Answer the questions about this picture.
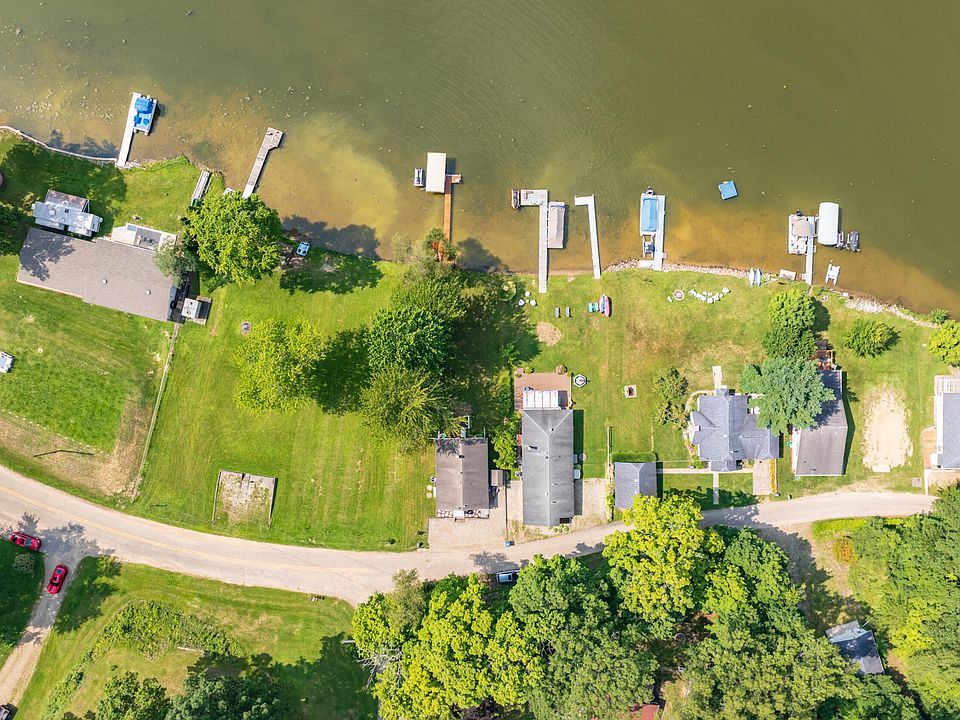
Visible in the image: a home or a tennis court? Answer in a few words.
home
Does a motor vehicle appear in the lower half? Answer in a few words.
Yes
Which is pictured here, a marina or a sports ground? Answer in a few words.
marina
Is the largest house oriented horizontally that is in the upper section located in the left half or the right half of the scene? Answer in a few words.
left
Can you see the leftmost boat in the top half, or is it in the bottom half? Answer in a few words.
top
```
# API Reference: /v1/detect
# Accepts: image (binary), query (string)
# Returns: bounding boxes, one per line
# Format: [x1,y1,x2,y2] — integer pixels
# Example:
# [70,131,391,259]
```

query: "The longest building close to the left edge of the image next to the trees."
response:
[18,230,192,324]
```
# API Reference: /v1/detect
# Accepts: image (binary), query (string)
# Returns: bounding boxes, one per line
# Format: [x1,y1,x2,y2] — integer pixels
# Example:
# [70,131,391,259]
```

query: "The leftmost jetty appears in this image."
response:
[116,93,140,167]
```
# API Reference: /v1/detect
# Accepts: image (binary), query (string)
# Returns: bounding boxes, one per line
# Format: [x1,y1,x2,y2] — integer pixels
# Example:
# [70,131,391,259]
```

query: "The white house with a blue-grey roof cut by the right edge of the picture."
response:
[921,376,960,469]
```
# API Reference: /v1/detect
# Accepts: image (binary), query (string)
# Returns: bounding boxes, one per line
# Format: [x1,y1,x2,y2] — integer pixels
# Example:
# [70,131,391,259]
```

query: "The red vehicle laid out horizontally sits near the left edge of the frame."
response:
[6,532,40,552]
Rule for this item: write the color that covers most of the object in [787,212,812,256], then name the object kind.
white boat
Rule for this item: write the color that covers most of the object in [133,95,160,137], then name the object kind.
blue boat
